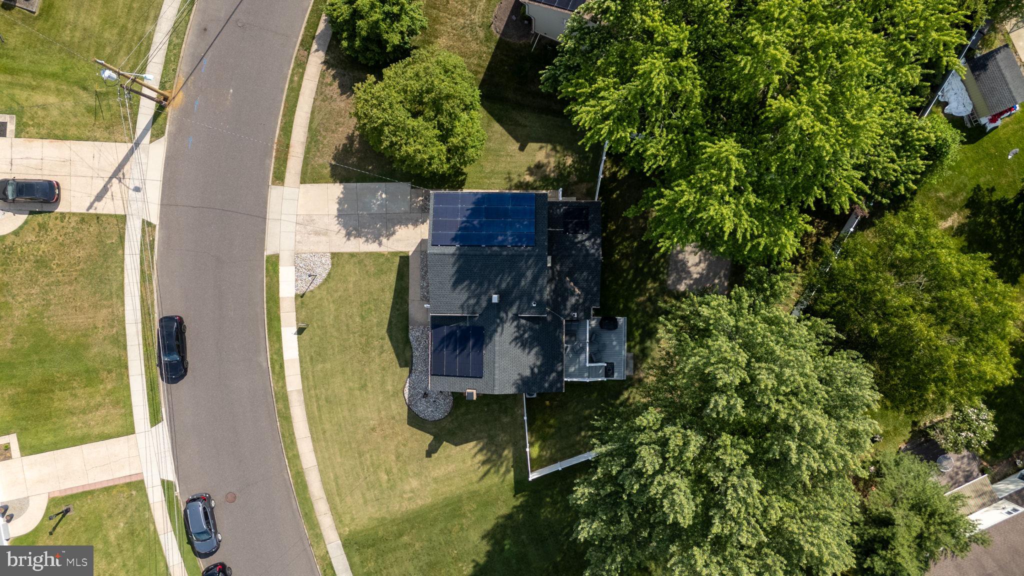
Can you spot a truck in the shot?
No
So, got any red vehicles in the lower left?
No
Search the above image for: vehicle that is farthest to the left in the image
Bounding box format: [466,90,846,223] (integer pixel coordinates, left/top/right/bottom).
[0,175,65,205]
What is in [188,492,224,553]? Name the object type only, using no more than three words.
car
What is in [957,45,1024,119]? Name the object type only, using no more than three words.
shed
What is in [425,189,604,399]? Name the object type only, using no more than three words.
house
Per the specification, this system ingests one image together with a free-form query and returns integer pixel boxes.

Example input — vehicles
[188,492,224,553]
[0,175,65,205]
[206,558,236,576]
[156,316,191,381]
